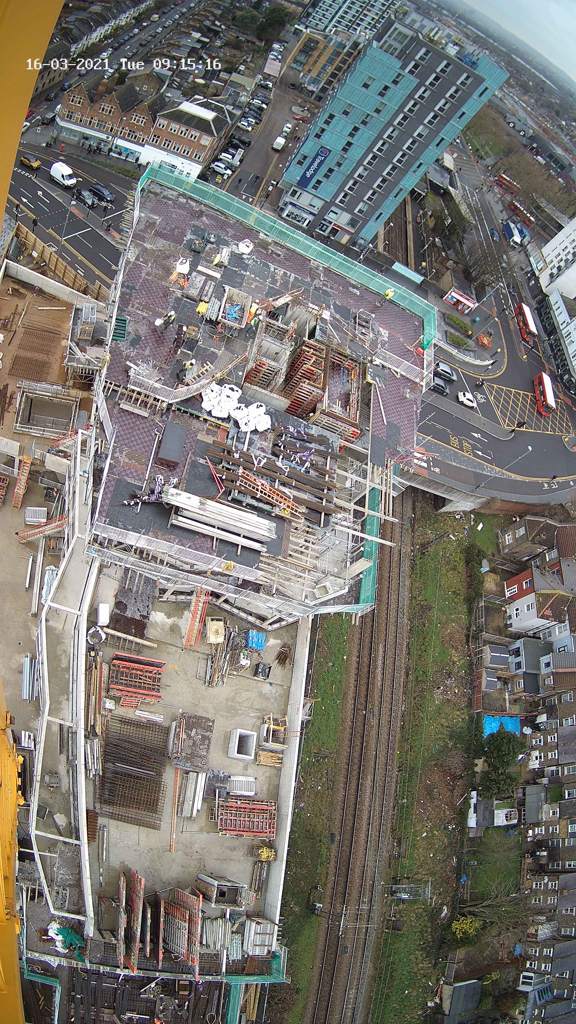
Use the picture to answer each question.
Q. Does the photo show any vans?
Yes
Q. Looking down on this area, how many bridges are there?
1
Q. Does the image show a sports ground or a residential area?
residential area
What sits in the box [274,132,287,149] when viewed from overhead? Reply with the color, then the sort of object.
white vehicle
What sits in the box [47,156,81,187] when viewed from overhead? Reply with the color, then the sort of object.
white van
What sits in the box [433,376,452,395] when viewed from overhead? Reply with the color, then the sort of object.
gray car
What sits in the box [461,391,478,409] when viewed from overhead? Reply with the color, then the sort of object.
white car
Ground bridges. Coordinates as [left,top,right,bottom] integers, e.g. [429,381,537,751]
[381,466,458,518]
